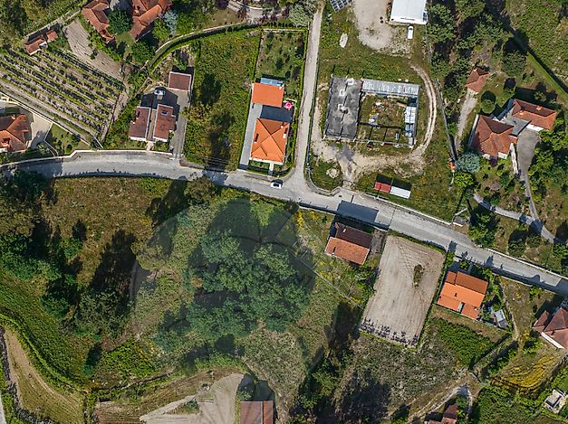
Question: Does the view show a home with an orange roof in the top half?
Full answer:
Yes, in the top half there is a home with an orange roof.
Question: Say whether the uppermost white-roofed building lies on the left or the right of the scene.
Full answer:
The uppermost white-roofed building is on the right side of the image.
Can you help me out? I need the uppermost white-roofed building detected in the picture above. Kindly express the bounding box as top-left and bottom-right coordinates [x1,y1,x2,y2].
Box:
[390,0,428,28]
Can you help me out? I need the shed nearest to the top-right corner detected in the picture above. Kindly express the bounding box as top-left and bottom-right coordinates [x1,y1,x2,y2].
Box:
[465,68,489,93]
